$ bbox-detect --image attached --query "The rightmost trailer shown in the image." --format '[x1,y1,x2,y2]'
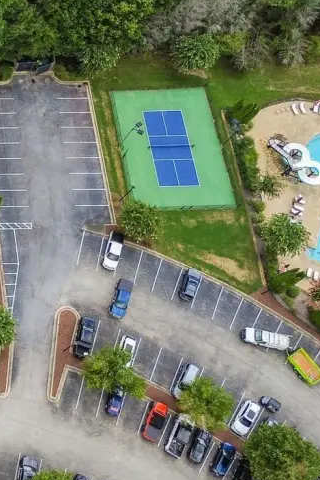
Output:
[286,348,320,386]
